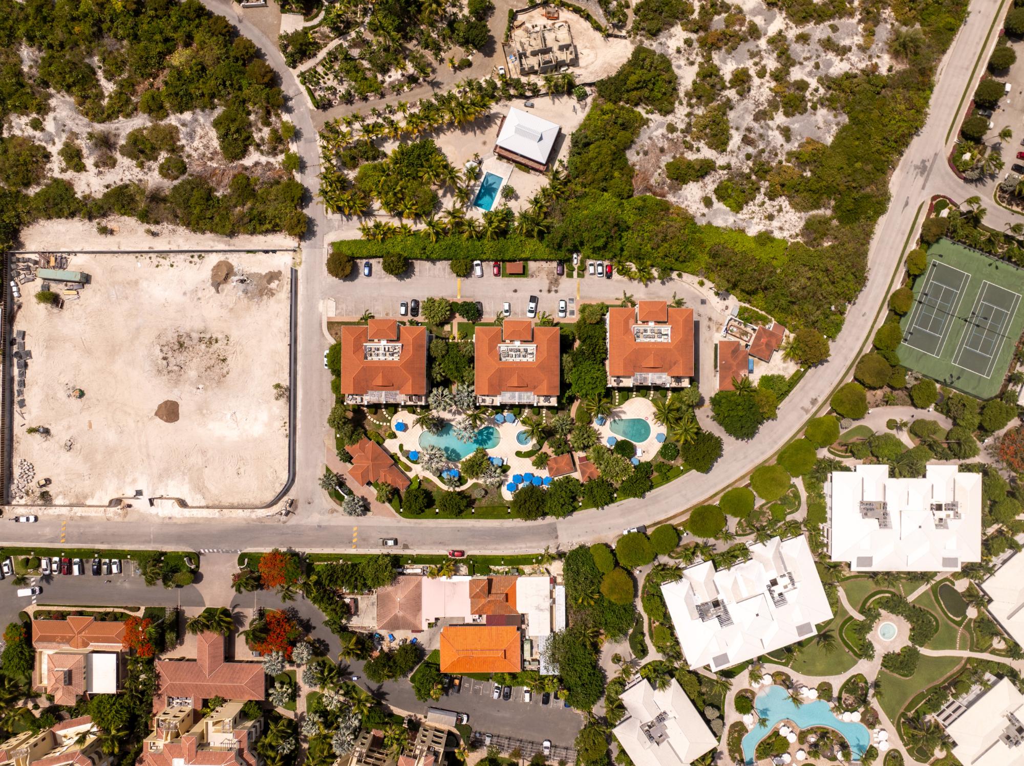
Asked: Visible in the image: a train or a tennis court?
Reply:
tennis court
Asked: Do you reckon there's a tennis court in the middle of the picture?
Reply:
No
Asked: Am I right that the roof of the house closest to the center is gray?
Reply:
No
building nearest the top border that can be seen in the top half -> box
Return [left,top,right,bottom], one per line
[508,19,579,74]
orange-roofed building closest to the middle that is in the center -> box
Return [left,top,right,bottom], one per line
[475,320,560,406]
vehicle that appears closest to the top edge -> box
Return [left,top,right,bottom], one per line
[545,4,558,18]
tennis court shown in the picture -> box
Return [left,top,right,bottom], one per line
[902,260,1021,378]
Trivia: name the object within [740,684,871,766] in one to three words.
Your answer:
swimming pool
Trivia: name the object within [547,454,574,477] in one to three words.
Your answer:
shed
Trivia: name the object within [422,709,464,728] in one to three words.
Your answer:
vehicle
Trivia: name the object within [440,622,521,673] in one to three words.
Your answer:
building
